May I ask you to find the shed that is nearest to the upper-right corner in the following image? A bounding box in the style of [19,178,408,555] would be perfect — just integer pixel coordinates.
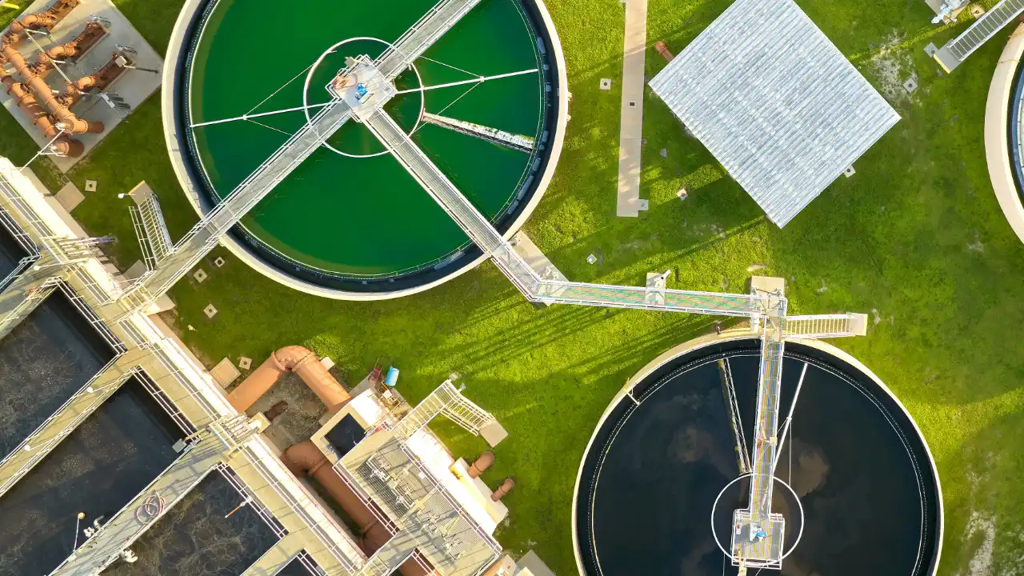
[649,0,902,227]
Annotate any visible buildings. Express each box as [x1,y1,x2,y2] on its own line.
[310,389,510,576]
[649,0,902,227]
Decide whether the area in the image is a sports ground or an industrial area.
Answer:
industrial area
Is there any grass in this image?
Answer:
Yes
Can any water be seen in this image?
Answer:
Yes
